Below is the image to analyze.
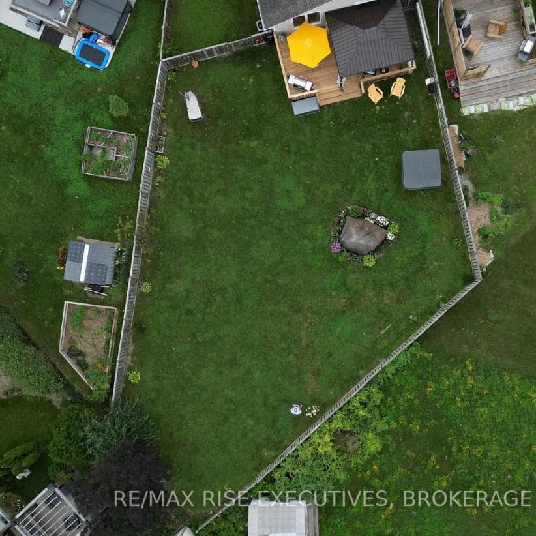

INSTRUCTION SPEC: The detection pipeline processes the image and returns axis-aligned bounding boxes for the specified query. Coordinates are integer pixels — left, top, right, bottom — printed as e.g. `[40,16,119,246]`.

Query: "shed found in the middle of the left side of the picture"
[64,242,123,285]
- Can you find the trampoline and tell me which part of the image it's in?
top left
